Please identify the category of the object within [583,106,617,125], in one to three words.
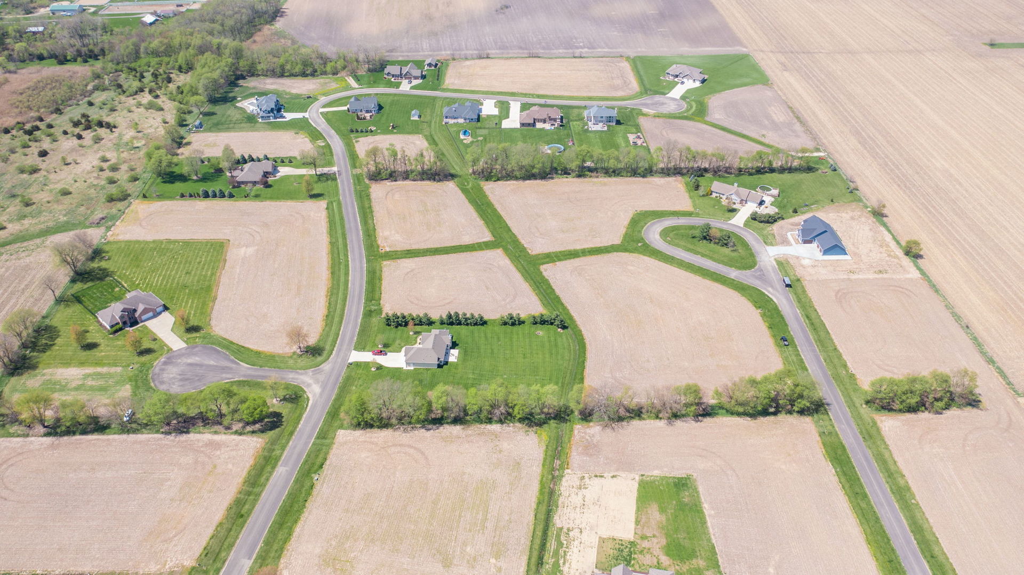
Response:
house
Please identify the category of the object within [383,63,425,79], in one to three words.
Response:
house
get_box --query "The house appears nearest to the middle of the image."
[404,331,453,368]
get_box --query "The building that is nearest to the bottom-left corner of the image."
[94,289,167,330]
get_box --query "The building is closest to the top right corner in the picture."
[789,214,851,255]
